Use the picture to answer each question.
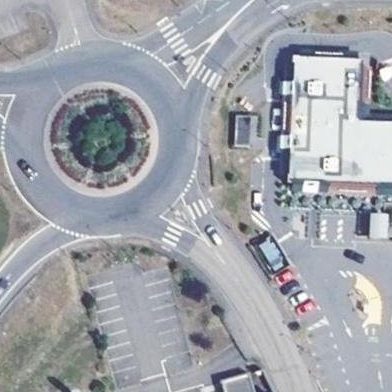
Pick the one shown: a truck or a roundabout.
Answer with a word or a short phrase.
roundabout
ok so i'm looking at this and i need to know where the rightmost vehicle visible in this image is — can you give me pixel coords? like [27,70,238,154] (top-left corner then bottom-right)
[344,248,366,264]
